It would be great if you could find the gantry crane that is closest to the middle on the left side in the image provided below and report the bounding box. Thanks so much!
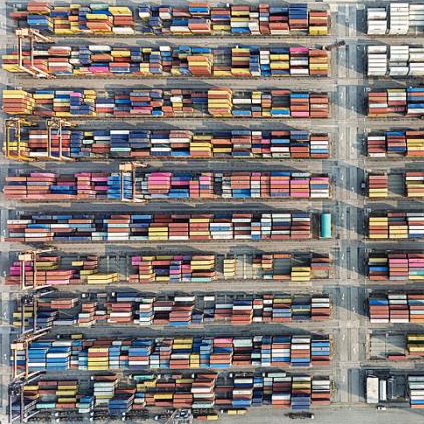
[116,153,154,204]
